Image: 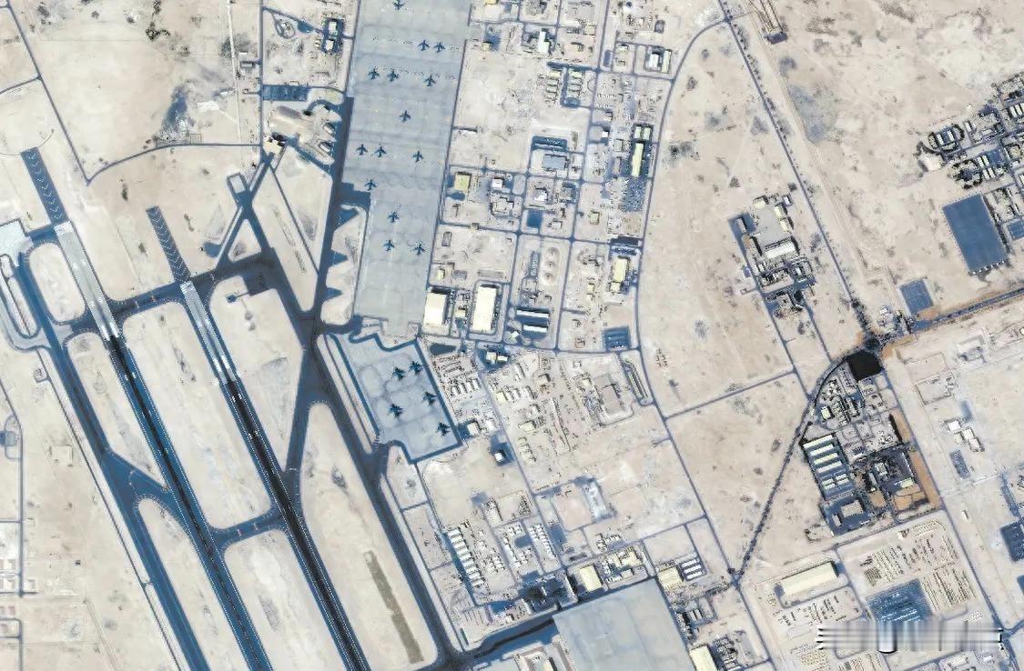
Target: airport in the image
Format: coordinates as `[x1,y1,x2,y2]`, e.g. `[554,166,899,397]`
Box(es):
[0,0,698,671]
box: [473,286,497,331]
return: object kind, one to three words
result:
hangar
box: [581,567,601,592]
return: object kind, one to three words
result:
hangar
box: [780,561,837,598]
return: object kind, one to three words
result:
building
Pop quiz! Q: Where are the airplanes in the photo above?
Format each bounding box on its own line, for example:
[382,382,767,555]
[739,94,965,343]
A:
[413,244,425,255]
[412,151,424,162]
[383,239,394,252]
[418,39,430,51]
[356,143,368,156]
[423,391,437,406]
[389,404,403,419]
[409,361,423,376]
[437,423,450,437]
[399,111,411,122]
[433,41,445,53]
[374,145,386,158]
[392,366,406,381]
[387,212,399,224]
[364,180,376,192]
[391,0,403,10]
[423,75,435,87]
[386,70,399,82]
[368,67,379,80]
